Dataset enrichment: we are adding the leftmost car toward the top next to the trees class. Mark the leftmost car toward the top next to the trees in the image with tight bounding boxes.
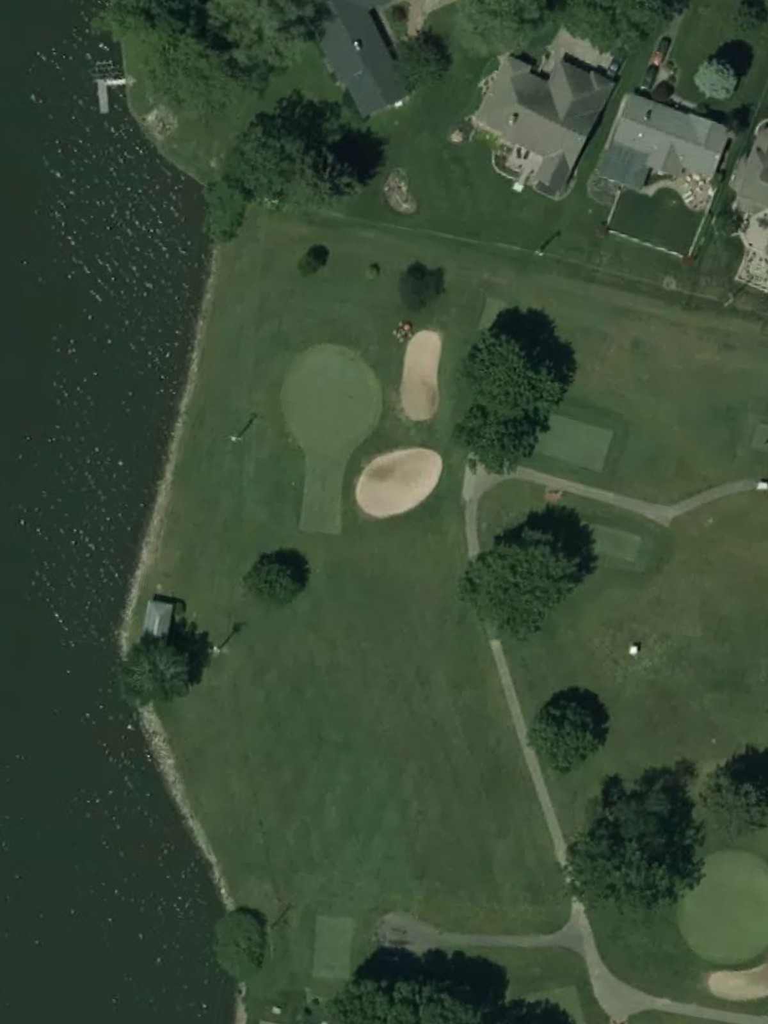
[604,53,621,80]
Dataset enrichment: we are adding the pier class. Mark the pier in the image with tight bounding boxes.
[97,78,136,113]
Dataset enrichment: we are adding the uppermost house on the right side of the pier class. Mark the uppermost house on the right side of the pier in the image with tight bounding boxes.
[323,0,408,118]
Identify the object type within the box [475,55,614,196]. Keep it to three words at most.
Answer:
house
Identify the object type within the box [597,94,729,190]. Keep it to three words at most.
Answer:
house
